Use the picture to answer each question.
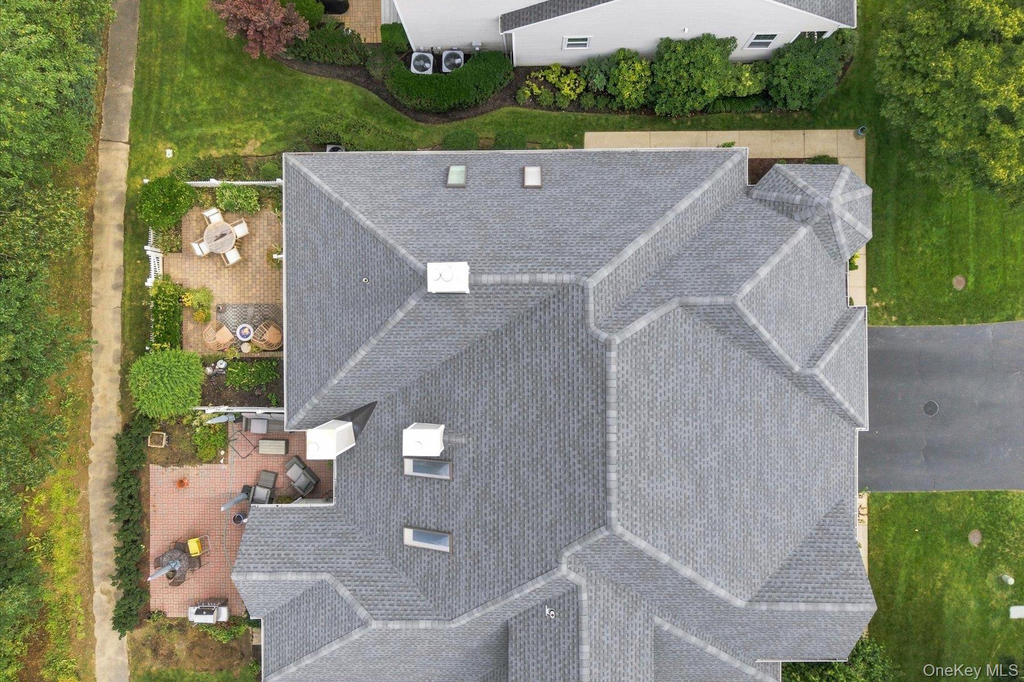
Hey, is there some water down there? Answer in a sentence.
No, the picture contains no water.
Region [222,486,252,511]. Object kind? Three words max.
umbrella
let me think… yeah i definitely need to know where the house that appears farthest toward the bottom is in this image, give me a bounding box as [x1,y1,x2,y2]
[231,145,879,682]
